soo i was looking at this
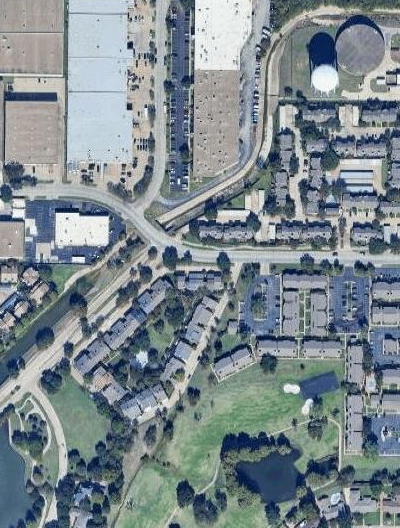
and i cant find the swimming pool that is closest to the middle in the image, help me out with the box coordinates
[136,353,149,367]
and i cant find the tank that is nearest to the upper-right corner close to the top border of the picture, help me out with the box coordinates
[335,26,384,76]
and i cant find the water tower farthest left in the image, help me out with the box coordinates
[310,65,338,100]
